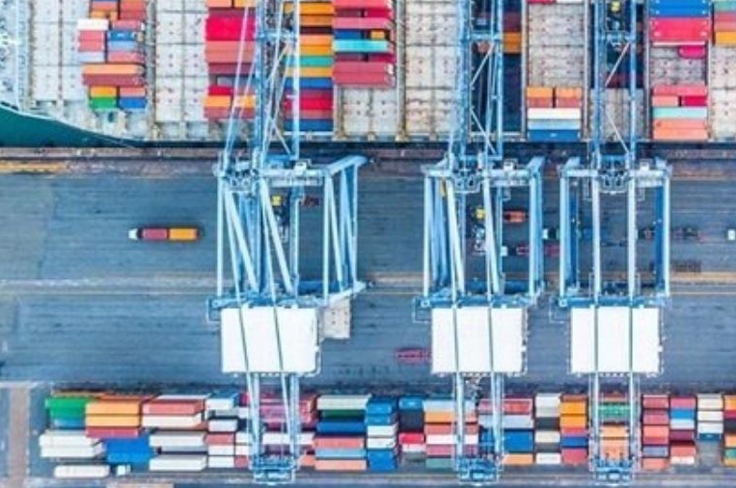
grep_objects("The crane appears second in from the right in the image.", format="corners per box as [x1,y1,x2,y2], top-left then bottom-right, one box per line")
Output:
[414,0,559,481]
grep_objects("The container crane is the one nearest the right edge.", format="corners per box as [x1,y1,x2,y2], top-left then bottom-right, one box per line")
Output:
[549,0,679,481]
